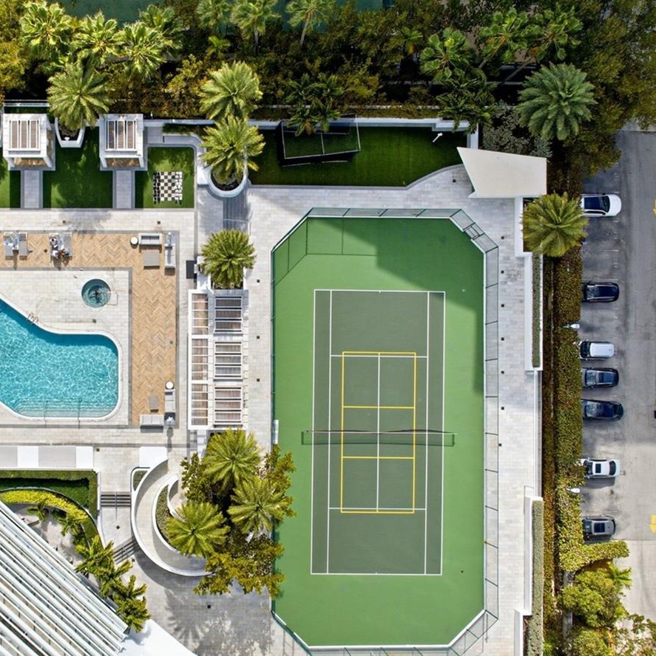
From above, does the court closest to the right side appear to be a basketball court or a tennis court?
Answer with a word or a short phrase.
tennis court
